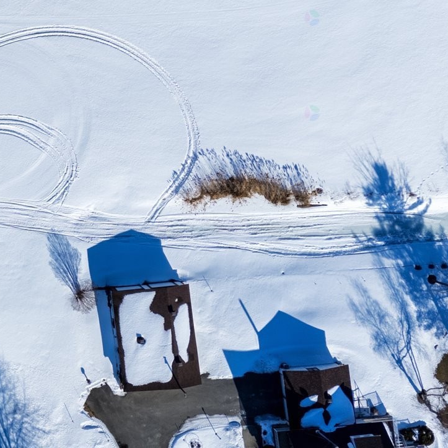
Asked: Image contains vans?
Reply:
No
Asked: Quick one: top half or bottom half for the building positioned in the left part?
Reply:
bottom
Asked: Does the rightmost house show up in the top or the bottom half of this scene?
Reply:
bottom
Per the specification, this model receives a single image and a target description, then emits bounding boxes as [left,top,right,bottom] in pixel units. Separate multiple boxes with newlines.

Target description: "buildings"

[266,360,397,448]
[108,280,202,392]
